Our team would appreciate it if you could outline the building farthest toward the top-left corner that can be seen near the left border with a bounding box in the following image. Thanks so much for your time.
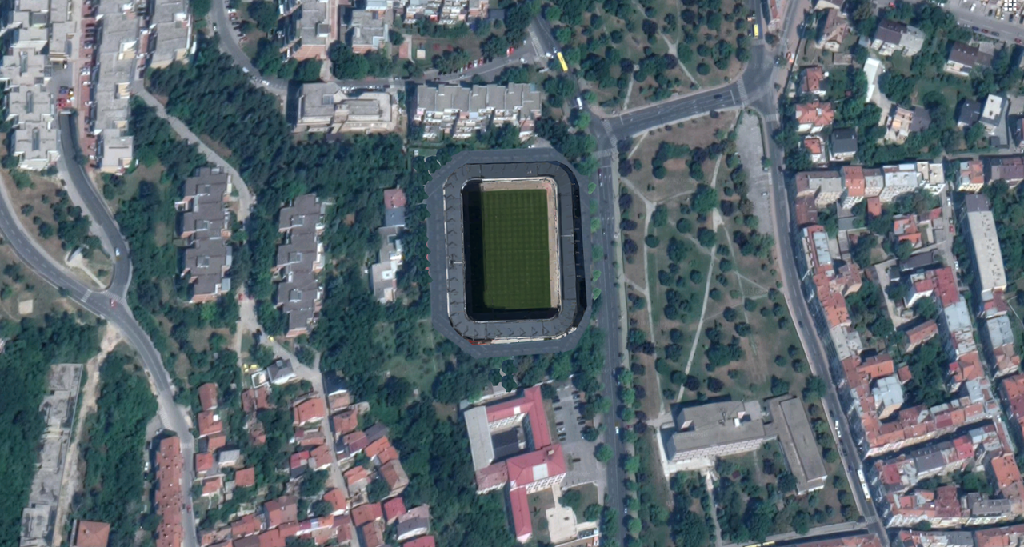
[12,0,48,51]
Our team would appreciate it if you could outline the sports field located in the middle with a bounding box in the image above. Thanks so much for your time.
[482,189,550,310]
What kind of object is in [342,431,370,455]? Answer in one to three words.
house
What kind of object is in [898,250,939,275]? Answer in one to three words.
building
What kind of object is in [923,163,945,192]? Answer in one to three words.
house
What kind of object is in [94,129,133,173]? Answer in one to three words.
building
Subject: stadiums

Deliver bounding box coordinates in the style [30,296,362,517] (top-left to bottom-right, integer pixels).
[425,149,591,358]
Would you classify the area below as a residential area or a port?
residential area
